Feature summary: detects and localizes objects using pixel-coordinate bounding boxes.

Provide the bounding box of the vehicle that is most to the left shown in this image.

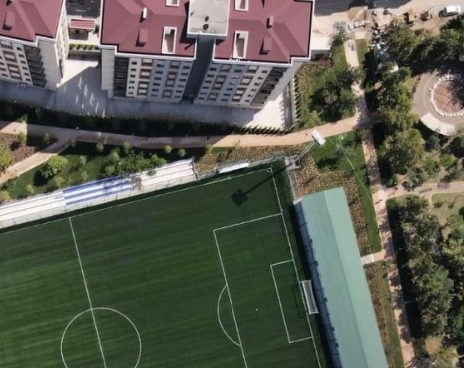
[395,1,421,20]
